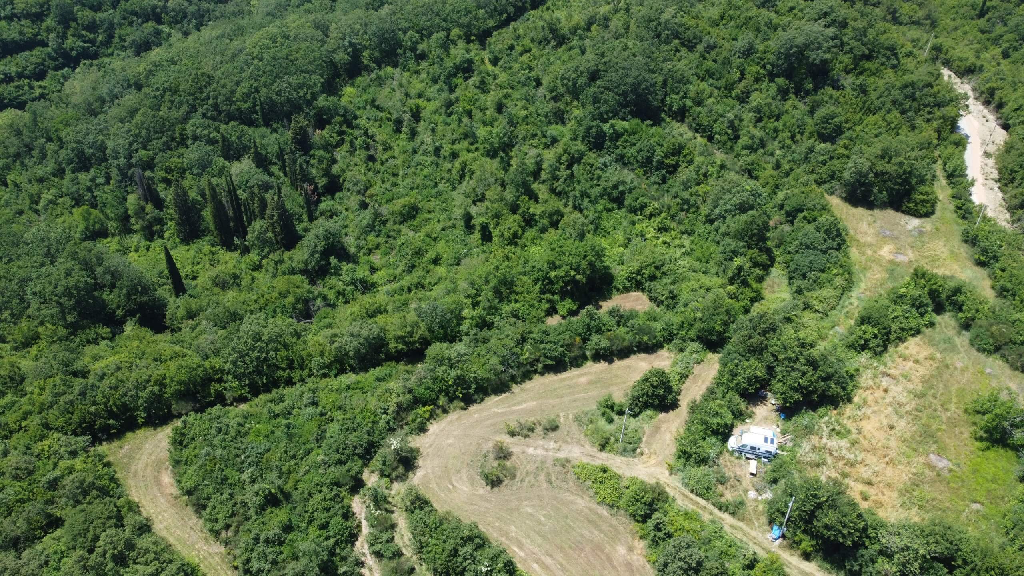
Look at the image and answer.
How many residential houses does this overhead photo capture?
none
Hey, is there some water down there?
No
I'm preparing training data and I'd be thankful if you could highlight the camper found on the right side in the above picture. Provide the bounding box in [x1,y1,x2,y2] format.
[727,434,783,466]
